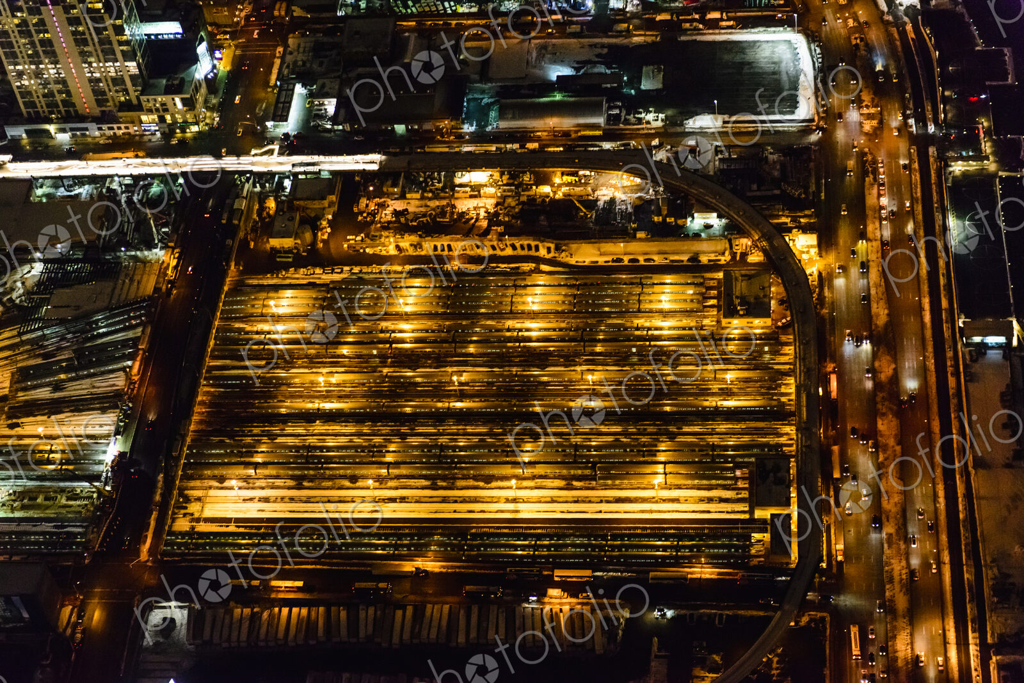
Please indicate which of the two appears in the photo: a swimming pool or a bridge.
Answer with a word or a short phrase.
bridge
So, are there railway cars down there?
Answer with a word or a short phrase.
Yes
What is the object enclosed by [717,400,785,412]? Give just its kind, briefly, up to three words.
rail car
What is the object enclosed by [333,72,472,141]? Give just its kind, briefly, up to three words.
building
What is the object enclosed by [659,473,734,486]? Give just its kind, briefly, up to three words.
rail car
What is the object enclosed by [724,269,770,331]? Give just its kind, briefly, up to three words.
building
